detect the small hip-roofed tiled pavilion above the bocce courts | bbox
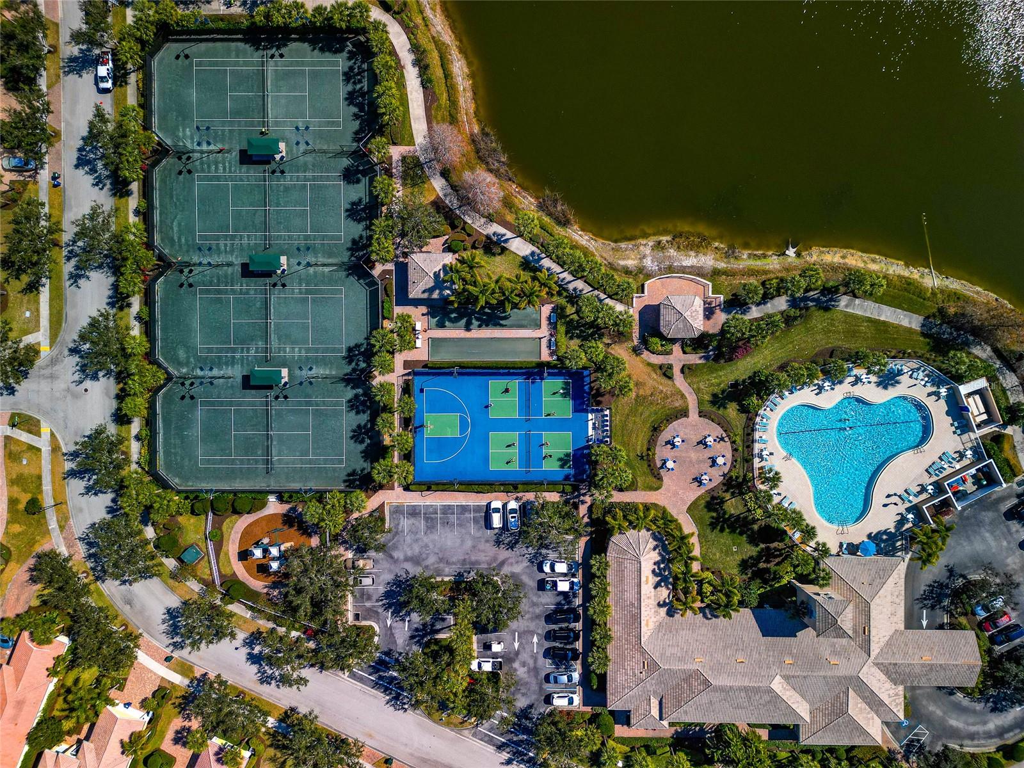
[407,252,453,299]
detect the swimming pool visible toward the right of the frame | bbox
[753,360,985,556]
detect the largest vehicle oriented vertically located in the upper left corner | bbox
[96,51,114,90]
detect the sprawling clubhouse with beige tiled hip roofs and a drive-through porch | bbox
[607,529,982,745]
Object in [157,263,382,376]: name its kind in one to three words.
tennis court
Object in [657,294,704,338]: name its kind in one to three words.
gazebo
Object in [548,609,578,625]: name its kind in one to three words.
car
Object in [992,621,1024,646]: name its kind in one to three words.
truck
